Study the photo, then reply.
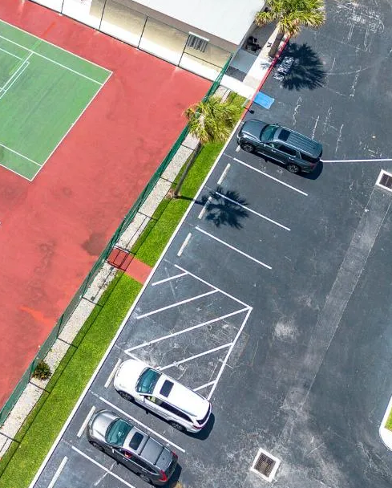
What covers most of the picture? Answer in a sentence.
The bulk of the photo consists of paved ground.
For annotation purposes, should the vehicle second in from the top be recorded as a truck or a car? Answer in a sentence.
The vehicle second in from the top is a car.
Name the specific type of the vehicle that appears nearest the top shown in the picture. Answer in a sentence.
From above, the vehicle that appears nearest the top can be identified as an automobile.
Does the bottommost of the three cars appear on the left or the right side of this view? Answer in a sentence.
The bottommost of the three cars sits on the left side.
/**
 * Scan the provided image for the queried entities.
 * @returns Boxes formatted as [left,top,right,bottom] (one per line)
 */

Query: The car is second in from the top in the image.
[116,361,214,437]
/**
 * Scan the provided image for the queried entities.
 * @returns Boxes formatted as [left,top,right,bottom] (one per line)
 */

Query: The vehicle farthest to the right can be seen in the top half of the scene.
[239,120,326,174]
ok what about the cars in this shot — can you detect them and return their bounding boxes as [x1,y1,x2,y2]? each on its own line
[85,411,179,488]
[239,120,326,174]
[116,361,214,437]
